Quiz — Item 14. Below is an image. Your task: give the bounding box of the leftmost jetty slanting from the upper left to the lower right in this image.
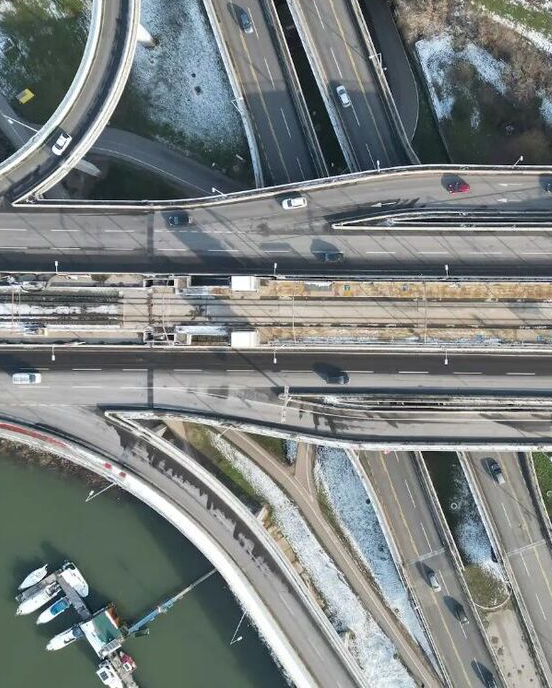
[54,575,91,621]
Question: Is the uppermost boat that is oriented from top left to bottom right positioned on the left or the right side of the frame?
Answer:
left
